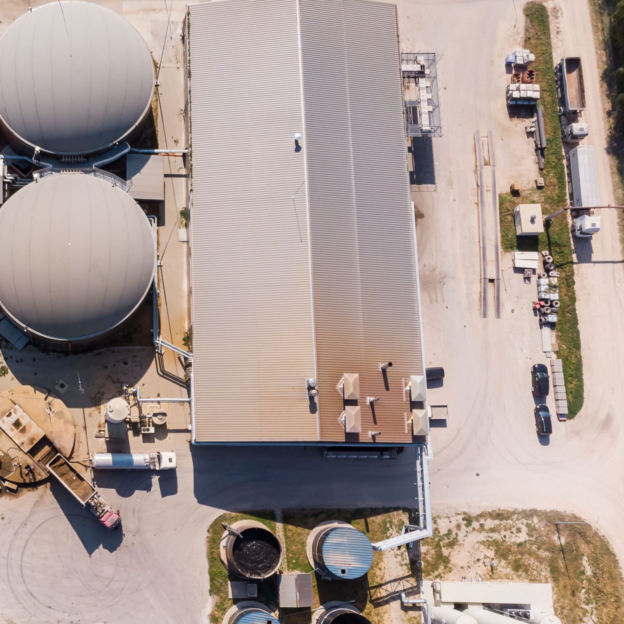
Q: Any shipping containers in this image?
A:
Yes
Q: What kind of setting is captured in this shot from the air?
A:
industrial area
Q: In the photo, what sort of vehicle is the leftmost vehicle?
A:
truck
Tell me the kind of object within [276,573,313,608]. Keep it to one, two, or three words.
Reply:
shed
